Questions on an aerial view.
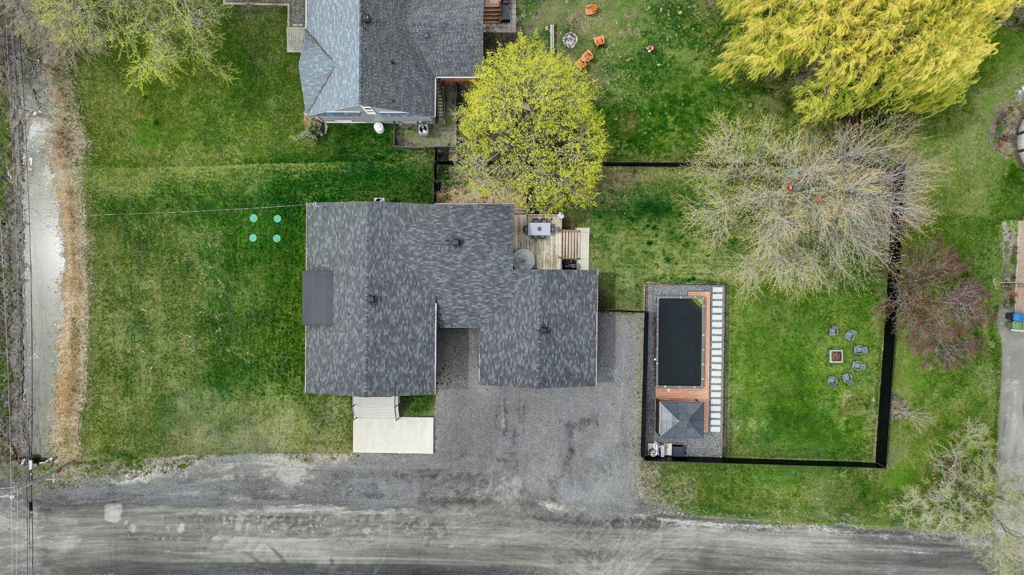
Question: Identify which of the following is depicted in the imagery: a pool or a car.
pool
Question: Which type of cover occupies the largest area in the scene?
grass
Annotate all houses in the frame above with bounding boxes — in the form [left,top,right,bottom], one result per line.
[298,0,483,126]
[302,200,599,398]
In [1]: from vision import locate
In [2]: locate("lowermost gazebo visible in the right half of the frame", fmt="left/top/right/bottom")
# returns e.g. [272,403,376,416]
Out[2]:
[655,397,705,438]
